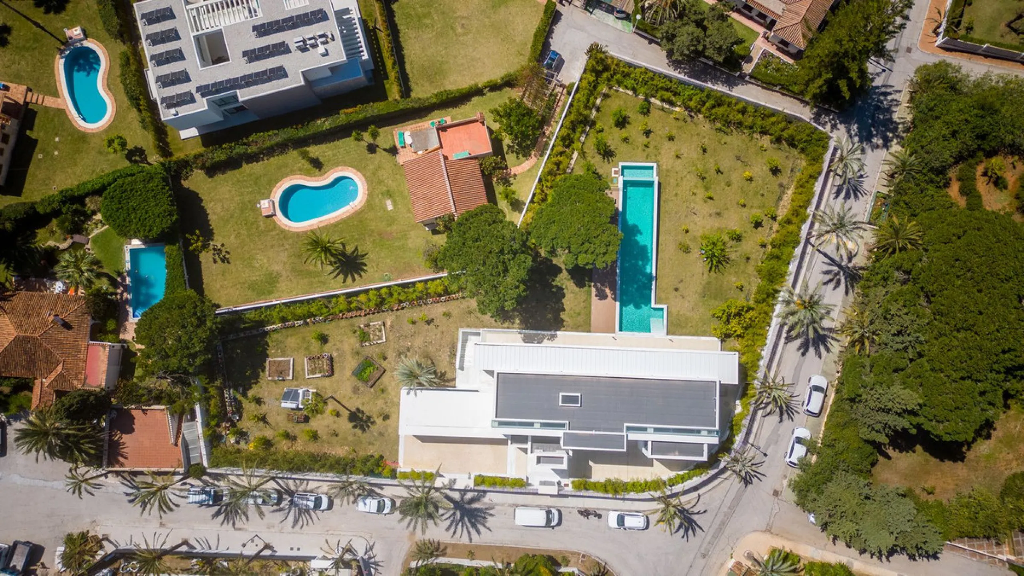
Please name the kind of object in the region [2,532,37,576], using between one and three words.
truck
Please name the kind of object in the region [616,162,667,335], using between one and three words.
swimming pool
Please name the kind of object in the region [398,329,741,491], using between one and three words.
house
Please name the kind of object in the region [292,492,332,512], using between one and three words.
car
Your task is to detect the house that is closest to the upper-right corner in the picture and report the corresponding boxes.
[711,0,837,75]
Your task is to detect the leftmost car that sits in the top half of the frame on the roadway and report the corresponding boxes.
[540,45,562,77]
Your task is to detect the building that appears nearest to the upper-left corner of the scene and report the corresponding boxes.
[66,28,87,47]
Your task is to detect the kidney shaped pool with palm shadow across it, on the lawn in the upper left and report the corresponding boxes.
[55,37,117,133]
